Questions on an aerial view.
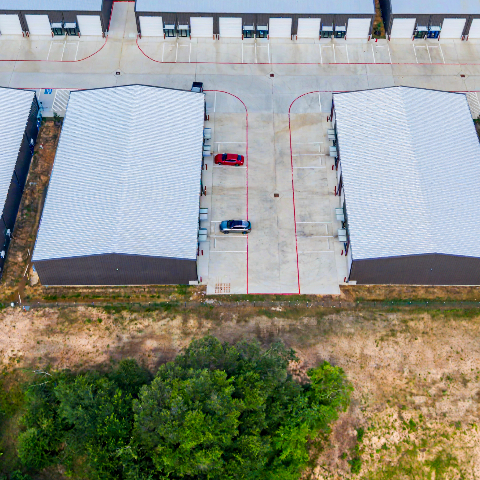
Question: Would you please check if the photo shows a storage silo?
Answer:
No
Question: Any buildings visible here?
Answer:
Yes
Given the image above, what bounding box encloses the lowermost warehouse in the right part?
[326,84,480,287]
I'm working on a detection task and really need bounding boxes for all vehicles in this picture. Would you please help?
[219,221,251,237]
[215,155,245,168]
[190,82,202,91]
